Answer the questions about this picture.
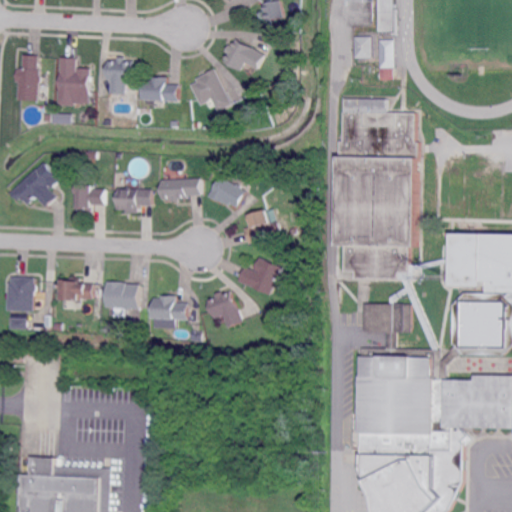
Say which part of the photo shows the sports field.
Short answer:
top right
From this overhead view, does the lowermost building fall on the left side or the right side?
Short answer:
left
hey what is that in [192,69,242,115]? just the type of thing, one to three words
house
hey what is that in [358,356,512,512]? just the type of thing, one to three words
building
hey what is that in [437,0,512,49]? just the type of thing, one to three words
sports field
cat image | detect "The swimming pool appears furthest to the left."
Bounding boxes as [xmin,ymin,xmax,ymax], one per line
[23,106,42,125]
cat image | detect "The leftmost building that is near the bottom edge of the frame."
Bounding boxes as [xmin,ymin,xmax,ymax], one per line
[18,457,106,512]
